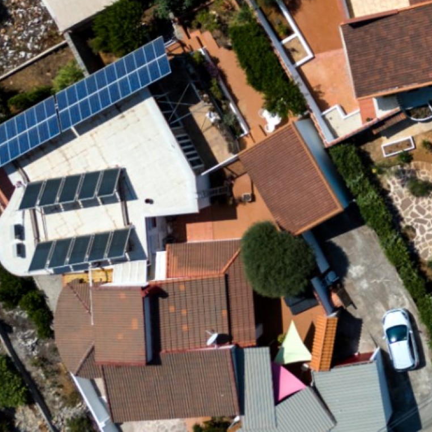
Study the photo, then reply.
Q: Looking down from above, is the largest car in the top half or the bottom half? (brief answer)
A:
bottom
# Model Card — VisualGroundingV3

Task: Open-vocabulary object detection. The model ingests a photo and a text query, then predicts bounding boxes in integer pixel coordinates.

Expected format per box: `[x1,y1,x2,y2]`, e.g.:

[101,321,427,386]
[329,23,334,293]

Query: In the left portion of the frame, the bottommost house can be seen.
[54,233,266,425]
